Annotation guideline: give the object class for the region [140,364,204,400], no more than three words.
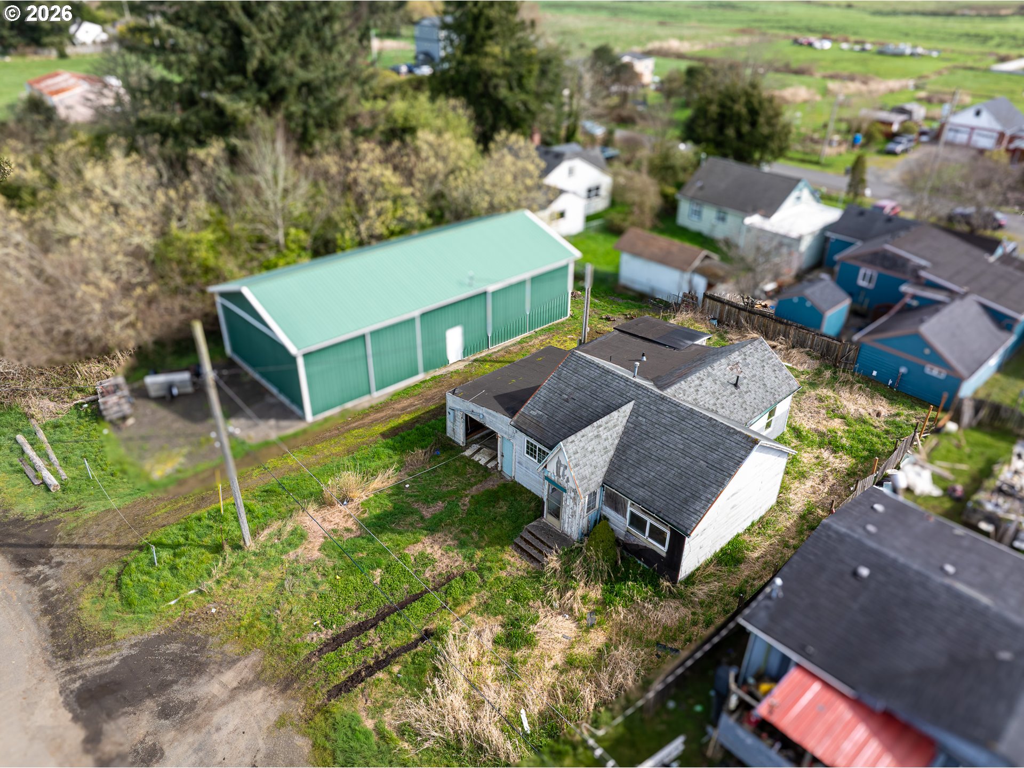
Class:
trailer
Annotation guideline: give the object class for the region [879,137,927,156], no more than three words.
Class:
vehicle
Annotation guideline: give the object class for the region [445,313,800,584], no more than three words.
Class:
house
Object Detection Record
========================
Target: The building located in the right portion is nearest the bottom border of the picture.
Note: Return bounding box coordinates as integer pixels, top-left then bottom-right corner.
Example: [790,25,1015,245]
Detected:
[698,488,1024,768]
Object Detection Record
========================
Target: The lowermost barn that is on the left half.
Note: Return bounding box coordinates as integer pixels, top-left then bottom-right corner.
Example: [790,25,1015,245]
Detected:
[205,207,582,423]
